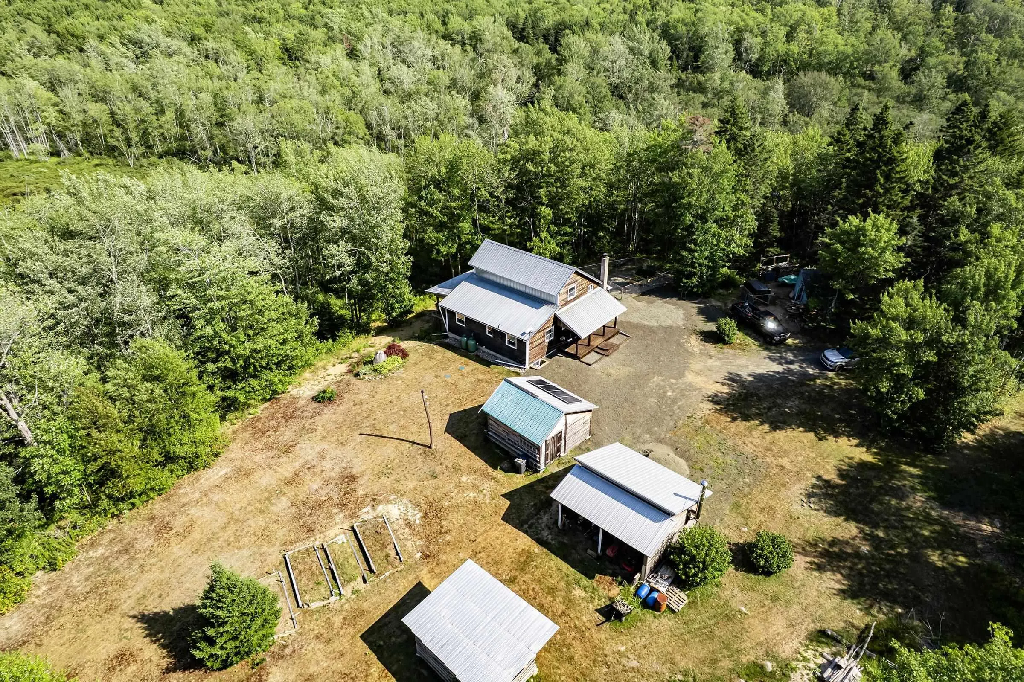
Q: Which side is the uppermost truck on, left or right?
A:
right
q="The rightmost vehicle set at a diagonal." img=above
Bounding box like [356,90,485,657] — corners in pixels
[730,303,789,342]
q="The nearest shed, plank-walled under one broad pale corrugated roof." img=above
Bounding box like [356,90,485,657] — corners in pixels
[397,558,559,682]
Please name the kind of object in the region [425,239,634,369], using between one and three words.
house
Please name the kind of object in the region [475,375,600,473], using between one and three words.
shed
